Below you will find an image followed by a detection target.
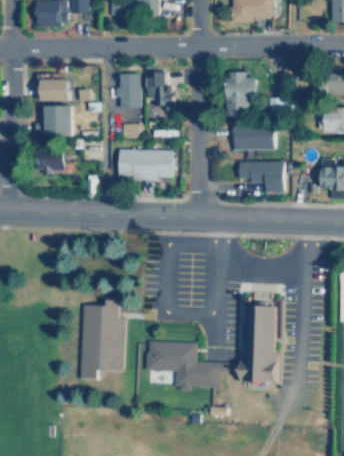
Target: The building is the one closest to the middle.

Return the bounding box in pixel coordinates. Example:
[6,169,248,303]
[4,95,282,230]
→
[118,148,176,180]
